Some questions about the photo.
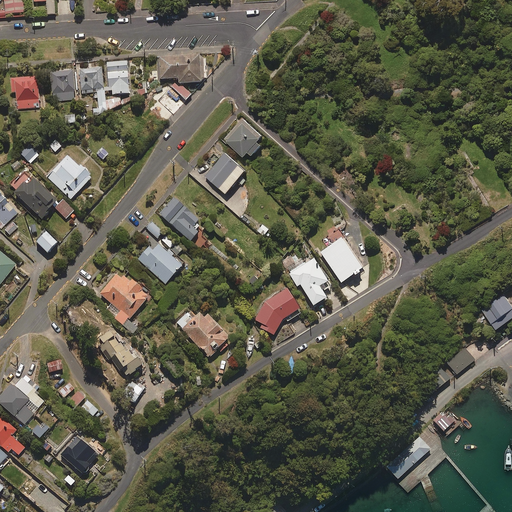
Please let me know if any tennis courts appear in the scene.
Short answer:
No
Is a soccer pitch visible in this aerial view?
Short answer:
No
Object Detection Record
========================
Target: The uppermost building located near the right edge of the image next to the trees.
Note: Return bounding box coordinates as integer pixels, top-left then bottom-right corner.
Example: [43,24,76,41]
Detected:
[483,296,512,330]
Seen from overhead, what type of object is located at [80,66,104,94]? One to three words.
house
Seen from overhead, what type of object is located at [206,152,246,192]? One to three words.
house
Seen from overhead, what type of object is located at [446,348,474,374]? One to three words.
building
